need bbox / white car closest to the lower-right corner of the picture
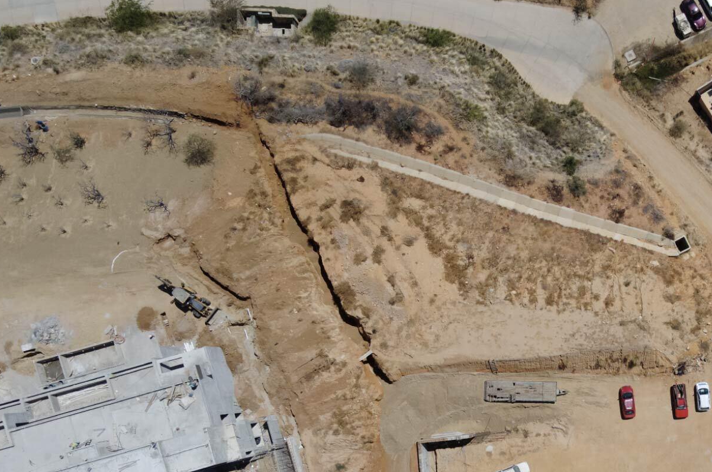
[695,383,711,413]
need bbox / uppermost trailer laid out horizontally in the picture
[481,380,569,404]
